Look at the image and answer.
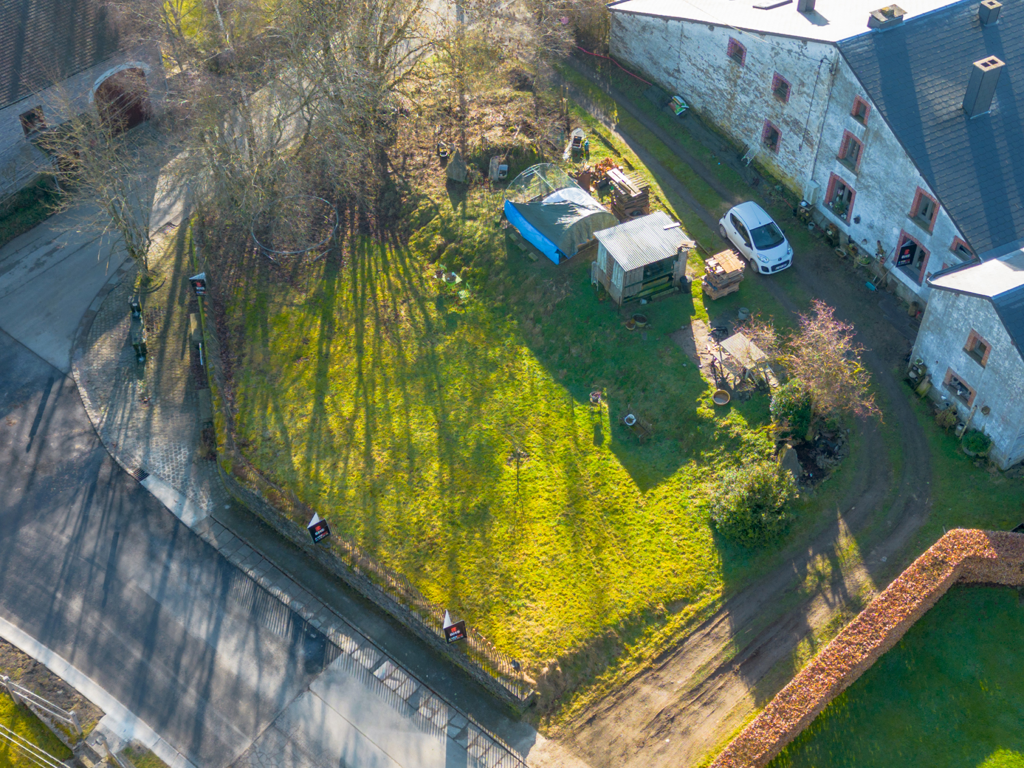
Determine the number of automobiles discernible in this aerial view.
1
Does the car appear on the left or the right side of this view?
right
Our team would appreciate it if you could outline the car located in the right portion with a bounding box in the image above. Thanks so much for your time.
[718,200,799,274]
